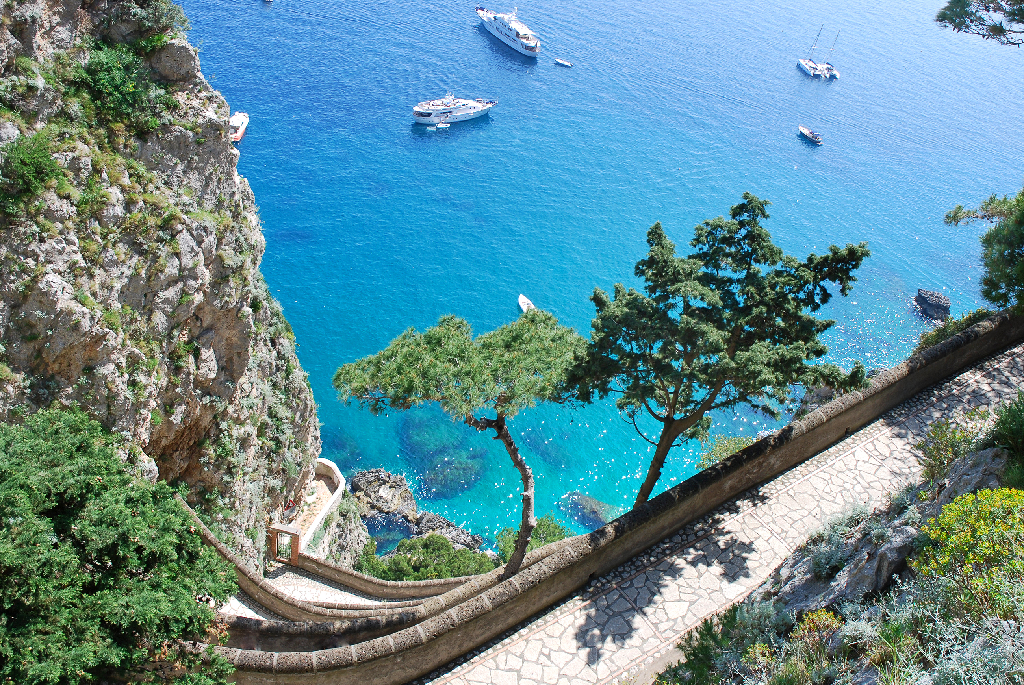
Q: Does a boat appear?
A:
Yes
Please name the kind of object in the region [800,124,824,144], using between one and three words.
boat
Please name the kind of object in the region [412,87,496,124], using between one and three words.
boat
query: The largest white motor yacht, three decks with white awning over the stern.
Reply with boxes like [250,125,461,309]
[479,3,543,57]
